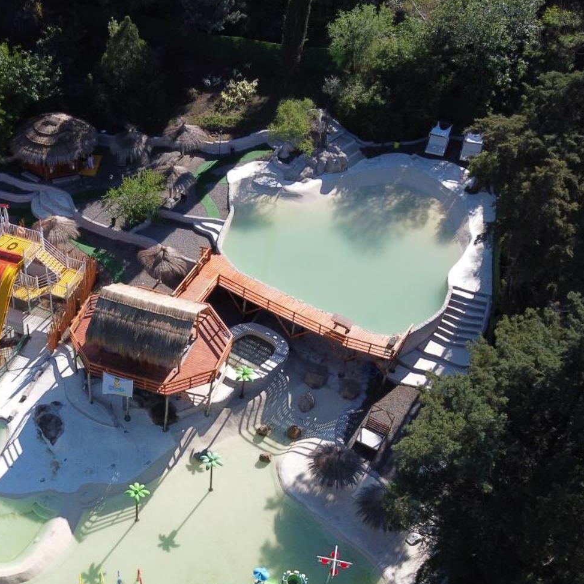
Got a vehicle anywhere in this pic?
No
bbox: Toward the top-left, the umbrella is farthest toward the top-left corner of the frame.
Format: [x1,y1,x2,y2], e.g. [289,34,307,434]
[110,122,149,165]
